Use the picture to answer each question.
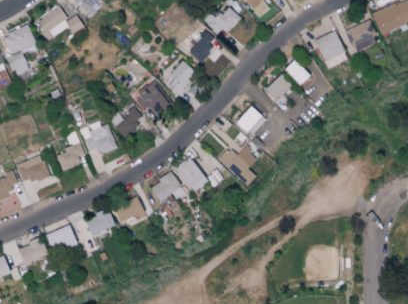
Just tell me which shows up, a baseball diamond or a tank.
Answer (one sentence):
The image shows a baseball diamond.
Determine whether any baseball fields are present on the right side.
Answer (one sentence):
Yes, the scene does show a baseball field on the right side.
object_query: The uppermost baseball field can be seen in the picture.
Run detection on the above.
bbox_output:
[264,220,342,293]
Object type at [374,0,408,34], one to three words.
house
